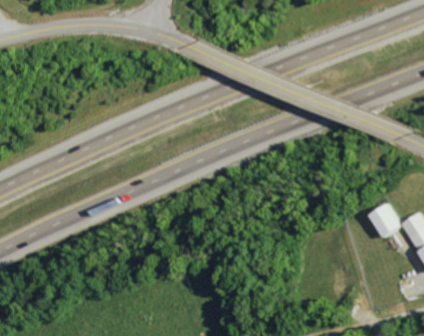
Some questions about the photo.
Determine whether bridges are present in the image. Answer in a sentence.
Yes, there's a bridge down there.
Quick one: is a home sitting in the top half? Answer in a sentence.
No, looking in the top half, there is no home.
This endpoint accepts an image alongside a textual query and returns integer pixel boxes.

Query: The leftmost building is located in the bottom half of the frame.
[368,204,402,238]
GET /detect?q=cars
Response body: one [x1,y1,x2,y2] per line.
[131,178,142,186]
[411,269,416,278]
[406,270,412,279]
[16,242,28,249]
[68,146,79,153]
